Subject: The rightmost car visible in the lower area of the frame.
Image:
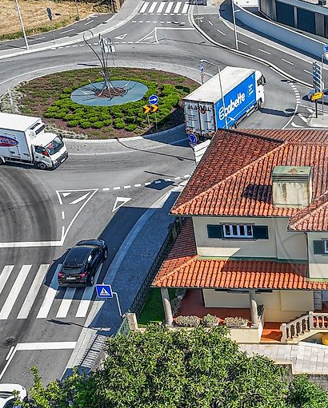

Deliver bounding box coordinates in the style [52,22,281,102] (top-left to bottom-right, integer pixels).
[58,239,112,288]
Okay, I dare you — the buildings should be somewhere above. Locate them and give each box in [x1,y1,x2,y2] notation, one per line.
[262,0,328,43]
[151,128,328,343]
